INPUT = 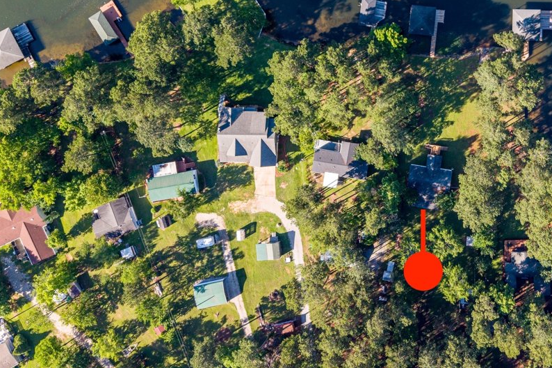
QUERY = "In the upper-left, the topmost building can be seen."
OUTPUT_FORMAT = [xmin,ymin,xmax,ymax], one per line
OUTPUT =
[88,0,128,45]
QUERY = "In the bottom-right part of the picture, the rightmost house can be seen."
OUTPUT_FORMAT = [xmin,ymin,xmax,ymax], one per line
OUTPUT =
[504,238,547,297]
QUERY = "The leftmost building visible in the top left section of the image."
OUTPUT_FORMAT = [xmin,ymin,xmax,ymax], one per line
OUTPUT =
[0,22,36,70]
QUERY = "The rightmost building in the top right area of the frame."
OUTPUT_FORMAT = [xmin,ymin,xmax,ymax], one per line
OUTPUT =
[512,9,552,40]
